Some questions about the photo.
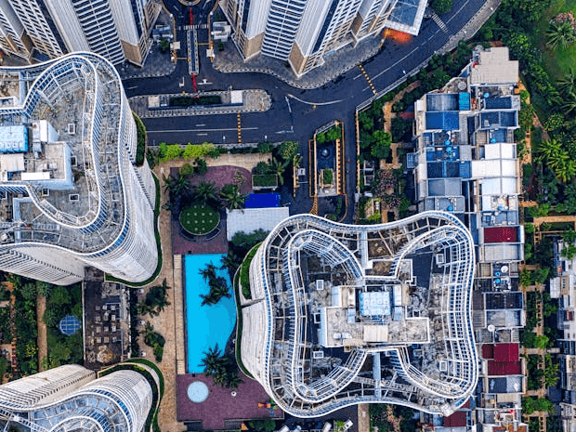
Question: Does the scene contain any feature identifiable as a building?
Yes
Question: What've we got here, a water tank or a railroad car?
water tank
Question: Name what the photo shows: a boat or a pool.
pool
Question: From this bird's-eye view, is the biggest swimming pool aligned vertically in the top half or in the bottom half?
bottom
